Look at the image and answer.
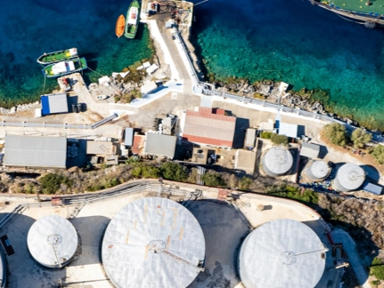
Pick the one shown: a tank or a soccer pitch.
tank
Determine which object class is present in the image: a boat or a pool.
boat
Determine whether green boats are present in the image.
Yes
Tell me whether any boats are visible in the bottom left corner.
No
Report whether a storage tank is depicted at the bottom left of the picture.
Yes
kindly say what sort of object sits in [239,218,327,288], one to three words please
storage tank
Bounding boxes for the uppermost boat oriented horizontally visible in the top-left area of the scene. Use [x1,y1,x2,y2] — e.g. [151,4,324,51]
[37,47,79,63]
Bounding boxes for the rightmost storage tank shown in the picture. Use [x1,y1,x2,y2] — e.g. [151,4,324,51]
[333,162,366,193]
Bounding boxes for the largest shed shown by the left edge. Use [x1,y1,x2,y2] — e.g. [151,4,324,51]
[4,136,67,169]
